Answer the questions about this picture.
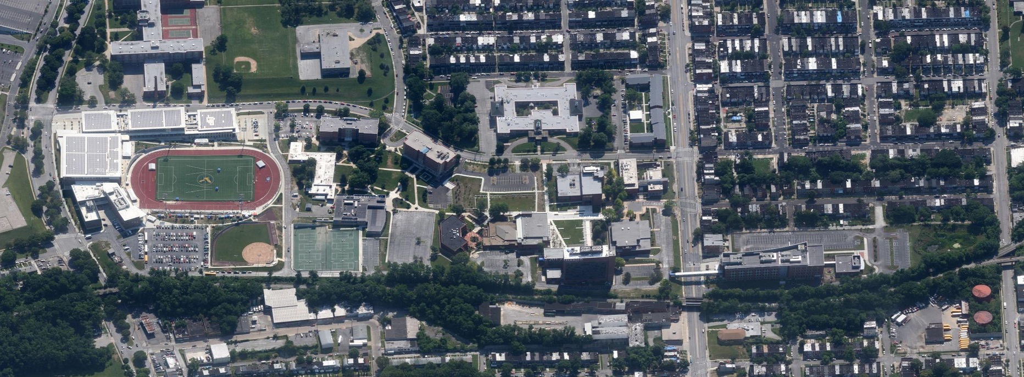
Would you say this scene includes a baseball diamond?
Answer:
Yes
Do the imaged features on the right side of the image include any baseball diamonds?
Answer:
No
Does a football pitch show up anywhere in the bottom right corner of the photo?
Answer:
No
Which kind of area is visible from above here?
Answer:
residential area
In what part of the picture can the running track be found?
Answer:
left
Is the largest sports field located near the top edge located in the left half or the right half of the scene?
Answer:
left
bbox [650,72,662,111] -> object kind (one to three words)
building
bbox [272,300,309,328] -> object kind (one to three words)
building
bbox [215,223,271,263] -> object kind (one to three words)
baseball field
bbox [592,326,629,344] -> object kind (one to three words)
shed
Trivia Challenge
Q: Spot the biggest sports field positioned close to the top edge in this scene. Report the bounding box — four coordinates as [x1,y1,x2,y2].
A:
[220,6,297,79]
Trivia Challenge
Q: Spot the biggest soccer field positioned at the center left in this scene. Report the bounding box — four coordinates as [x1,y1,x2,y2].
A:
[156,155,255,201]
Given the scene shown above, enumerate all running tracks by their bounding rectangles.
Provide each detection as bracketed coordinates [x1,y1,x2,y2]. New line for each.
[130,148,281,211]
